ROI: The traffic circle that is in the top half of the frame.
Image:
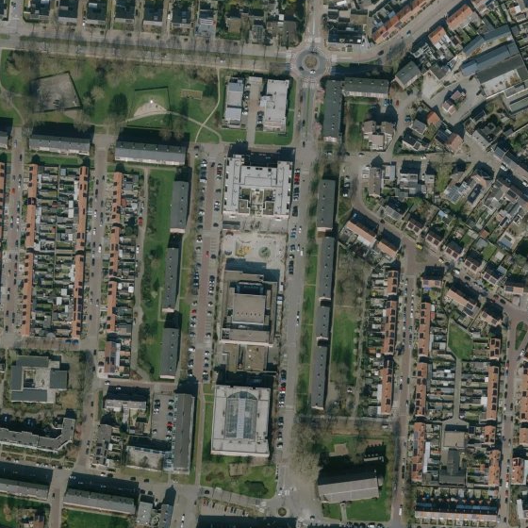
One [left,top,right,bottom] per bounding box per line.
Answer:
[290,41,332,81]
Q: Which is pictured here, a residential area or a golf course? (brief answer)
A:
residential area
